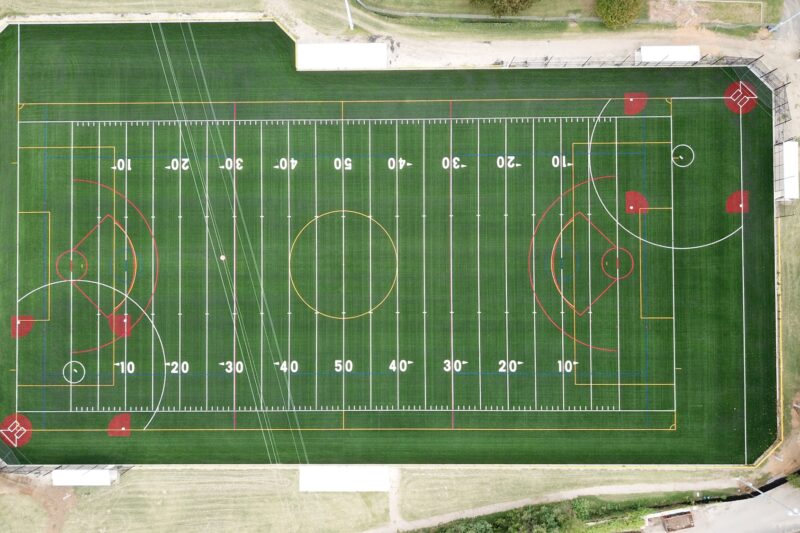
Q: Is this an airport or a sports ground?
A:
sports ground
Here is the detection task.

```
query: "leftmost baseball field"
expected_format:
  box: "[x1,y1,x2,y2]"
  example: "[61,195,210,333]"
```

[0,25,166,448]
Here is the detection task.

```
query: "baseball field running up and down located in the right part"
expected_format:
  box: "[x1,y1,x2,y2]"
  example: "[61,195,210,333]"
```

[589,80,759,463]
